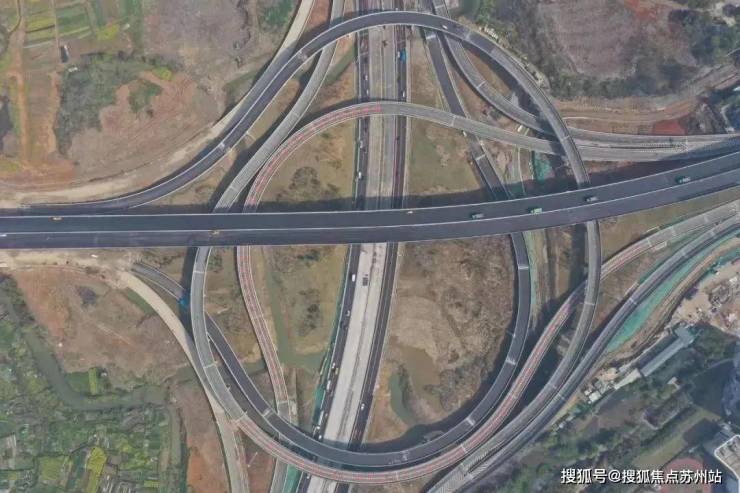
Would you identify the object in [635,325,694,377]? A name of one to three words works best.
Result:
shed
